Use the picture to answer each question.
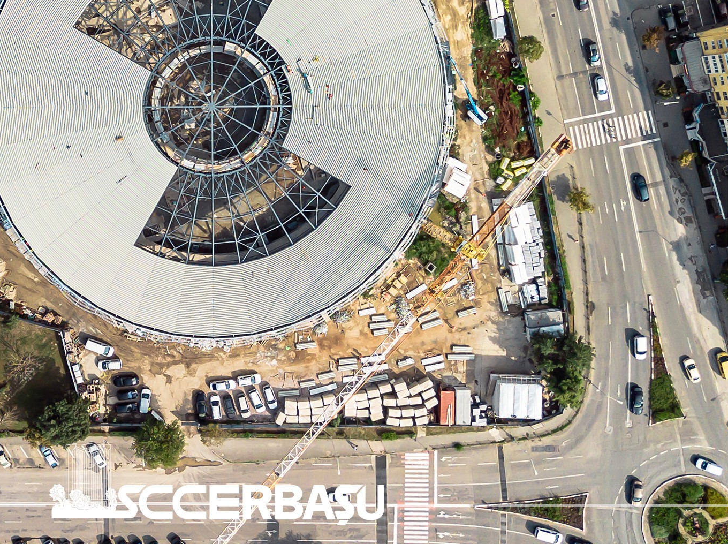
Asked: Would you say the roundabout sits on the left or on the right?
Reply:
right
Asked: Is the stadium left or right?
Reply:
left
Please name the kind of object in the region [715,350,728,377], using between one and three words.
vehicle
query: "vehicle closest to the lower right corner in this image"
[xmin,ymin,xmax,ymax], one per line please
[694,456,723,475]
